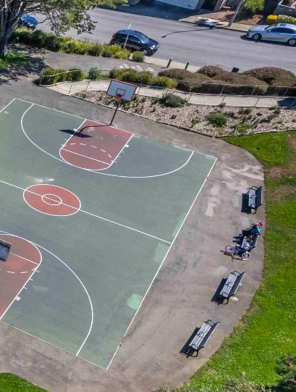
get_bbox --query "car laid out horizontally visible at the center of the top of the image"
[108,22,161,52]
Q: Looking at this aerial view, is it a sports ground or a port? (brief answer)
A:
sports ground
